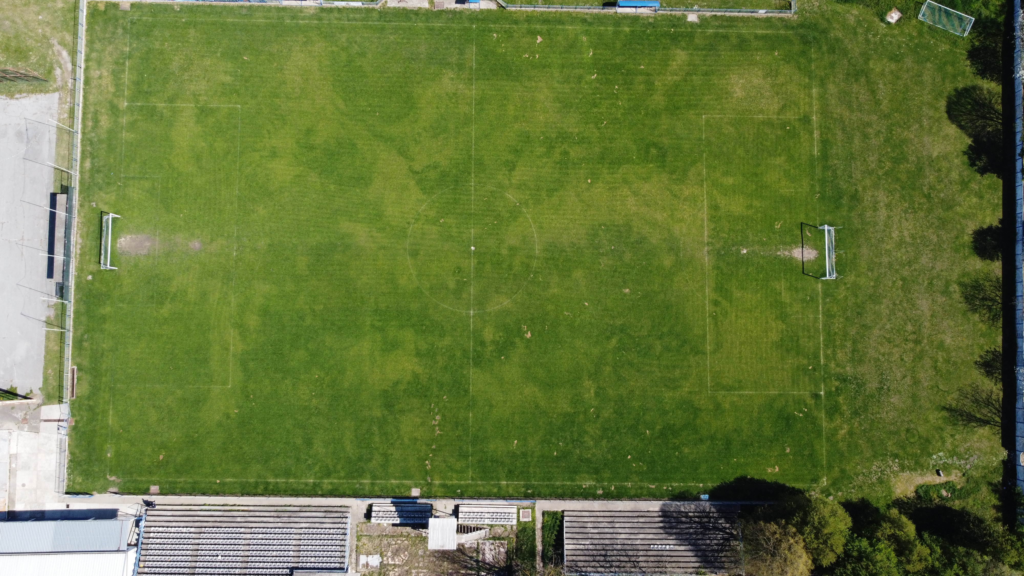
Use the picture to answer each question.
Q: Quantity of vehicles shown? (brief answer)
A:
0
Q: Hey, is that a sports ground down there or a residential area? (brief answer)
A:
sports ground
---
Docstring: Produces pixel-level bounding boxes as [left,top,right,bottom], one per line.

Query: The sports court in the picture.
[0,86,59,401]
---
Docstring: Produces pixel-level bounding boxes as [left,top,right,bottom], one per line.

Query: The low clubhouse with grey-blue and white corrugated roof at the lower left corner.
[0,518,138,576]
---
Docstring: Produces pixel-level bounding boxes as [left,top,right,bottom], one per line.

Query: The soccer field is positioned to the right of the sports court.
[99,14,831,493]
